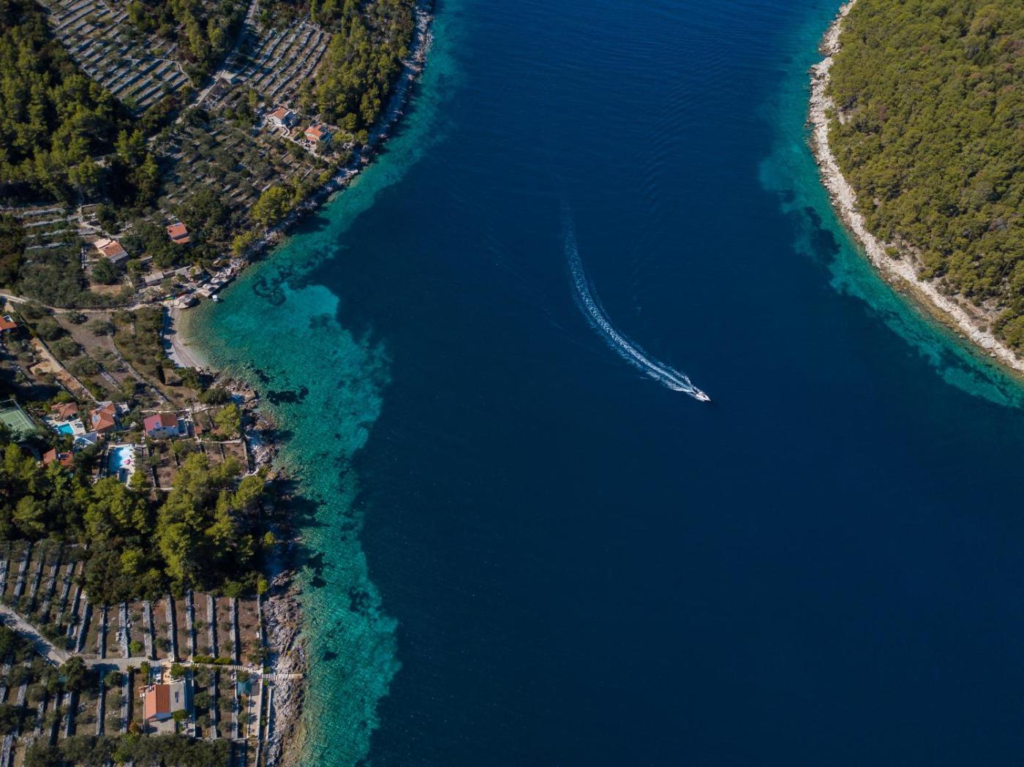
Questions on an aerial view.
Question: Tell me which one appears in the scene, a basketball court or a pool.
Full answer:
This aerial view contains a pool.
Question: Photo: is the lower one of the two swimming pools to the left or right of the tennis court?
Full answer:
You can see the lower one of the two swimming pools positioned to the right of the tennis court.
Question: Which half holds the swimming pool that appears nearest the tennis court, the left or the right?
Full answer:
The swimming pool that appears nearest the tennis court is on the left side of the image.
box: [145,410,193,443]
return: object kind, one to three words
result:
house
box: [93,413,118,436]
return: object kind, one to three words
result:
house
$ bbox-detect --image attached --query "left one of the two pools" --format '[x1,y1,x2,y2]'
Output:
[49,416,86,439]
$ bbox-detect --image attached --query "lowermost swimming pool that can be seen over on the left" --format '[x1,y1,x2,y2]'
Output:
[107,441,137,484]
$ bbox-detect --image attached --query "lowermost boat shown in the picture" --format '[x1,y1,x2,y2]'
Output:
[691,385,710,398]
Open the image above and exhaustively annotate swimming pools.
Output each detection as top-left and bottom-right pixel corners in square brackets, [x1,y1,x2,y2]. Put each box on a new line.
[49,416,86,439]
[107,441,137,484]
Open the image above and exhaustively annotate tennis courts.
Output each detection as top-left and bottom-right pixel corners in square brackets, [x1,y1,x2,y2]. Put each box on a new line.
[0,392,46,455]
